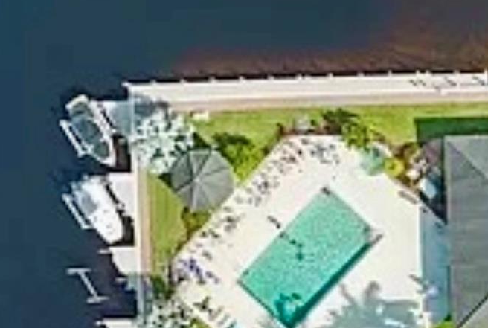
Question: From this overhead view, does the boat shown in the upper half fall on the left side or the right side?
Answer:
left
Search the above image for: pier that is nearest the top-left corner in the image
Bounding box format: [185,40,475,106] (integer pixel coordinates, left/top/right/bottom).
[99,99,130,135]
